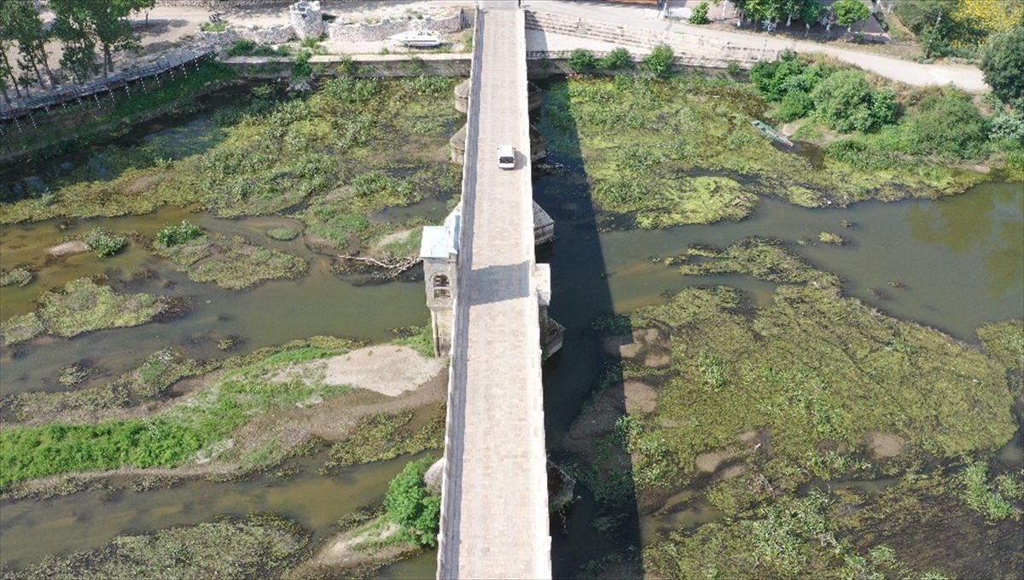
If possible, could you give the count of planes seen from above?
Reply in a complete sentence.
There are no planes in the image.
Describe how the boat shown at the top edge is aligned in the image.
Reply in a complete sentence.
From this overhead view, the boat shown at the top edge appears to run horizontally.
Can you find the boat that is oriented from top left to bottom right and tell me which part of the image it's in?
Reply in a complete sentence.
The boat that is oriented from top left to bottom right sits in the top right section of the image.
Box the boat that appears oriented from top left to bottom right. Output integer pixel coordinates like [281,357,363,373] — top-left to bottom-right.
[752,118,794,145]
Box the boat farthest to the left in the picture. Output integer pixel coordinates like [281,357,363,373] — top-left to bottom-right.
[388,29,446,49]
